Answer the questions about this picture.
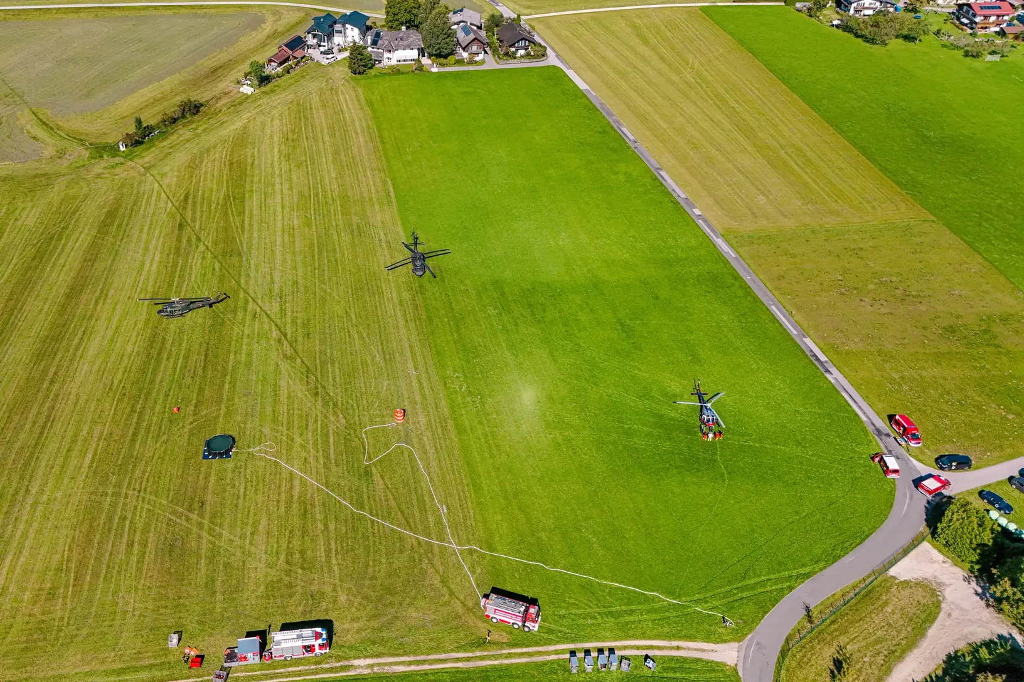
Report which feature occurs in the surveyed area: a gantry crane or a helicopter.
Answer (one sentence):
Looking from above, you can make out a helicopter.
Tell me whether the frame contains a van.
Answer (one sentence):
Yes, the picture does show a van.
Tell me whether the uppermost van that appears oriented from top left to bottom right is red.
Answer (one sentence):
Yes, red is the color of the uppermost van that appears oriented from top left to bottom right.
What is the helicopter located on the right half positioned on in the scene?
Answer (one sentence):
In this view, the helicopter located on the right half is located on the grass.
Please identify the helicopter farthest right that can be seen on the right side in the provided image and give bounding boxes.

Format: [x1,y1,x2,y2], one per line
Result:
[674,375,726,428]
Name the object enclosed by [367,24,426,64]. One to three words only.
house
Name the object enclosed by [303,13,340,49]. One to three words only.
house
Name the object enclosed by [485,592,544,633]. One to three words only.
truck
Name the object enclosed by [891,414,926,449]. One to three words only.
van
